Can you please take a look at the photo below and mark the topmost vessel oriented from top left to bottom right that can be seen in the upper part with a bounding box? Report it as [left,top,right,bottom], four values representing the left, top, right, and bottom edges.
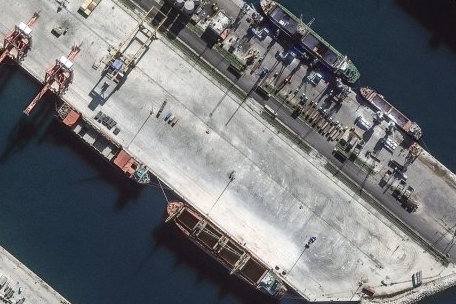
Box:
[262,2,361,85]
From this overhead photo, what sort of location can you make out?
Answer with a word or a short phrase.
port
